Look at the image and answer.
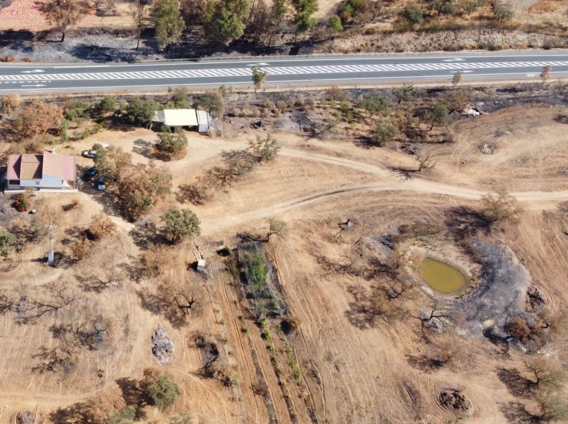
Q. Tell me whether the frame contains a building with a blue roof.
No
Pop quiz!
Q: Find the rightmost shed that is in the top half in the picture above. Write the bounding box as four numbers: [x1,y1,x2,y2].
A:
[164,109,197,133]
